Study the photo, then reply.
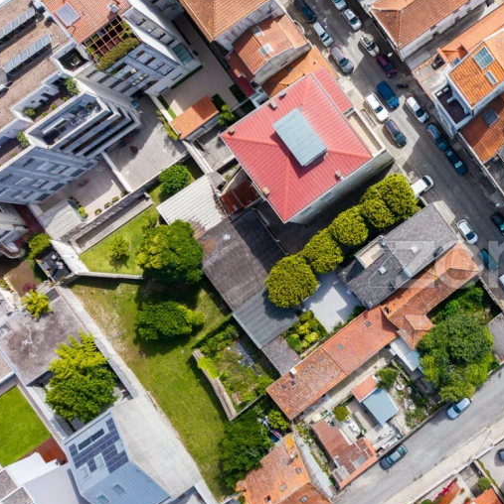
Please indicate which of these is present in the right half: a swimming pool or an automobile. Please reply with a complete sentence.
It is an automobile that can be seen in the right half.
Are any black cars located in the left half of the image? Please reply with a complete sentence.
No, no black car appears in the left half of the image.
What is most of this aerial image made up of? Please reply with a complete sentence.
The scene is dominated by buildings.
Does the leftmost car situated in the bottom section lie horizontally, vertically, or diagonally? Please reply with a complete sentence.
I'd say the leftmost car situated in the bottom section is aligned diagonally in the picture.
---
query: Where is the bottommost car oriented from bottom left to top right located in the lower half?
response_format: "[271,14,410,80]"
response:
[379,443,409,471]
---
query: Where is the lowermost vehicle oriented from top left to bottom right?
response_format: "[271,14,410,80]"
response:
[476,244,502,276]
